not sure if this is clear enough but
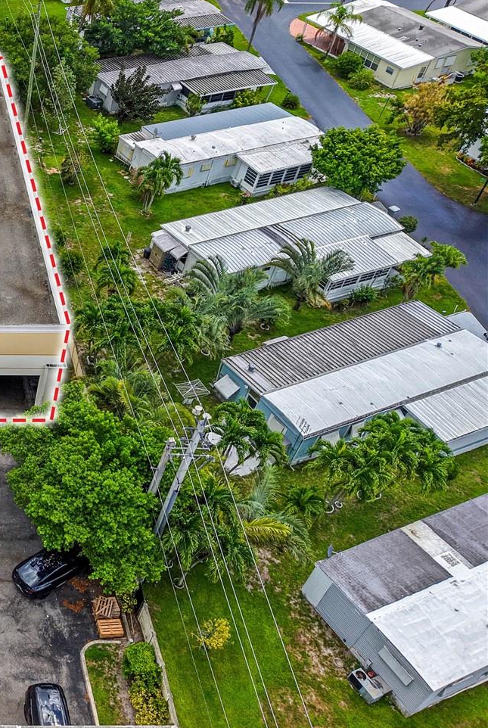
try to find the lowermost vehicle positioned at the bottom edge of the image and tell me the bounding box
[21,682,70,726]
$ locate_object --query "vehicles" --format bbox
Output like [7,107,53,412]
[11,532,87,597]
[21,682,70,726]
